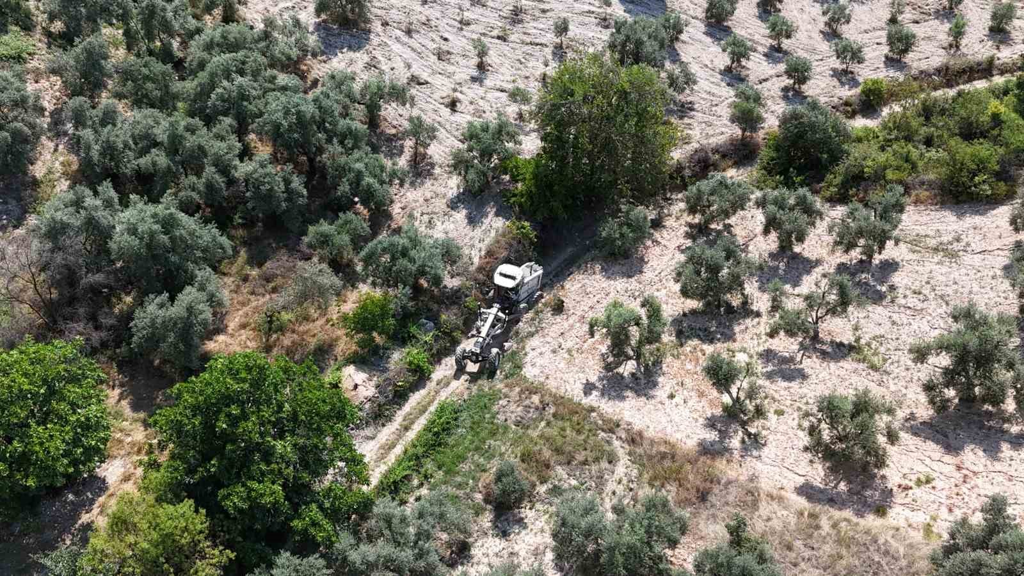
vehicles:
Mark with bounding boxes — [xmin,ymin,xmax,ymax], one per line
[456,260,552,376]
